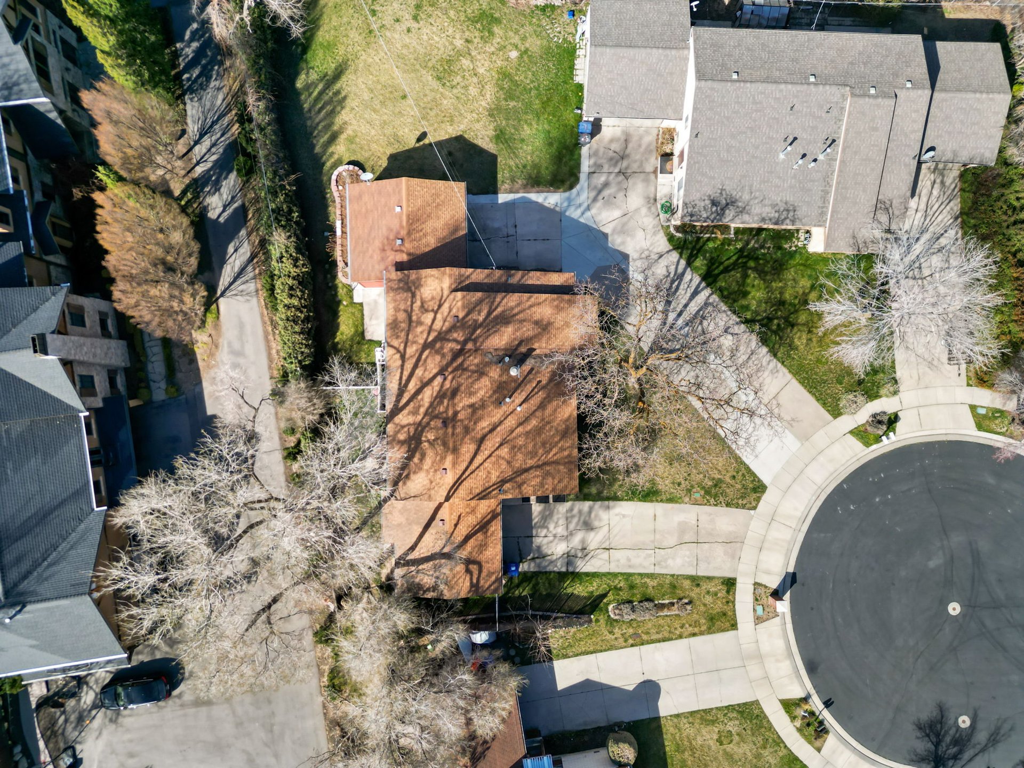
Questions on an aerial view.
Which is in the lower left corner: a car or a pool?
car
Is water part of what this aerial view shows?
No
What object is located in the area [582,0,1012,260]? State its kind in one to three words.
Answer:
house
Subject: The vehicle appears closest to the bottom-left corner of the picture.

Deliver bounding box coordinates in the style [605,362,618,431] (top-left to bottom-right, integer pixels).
[94,679,167,720]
